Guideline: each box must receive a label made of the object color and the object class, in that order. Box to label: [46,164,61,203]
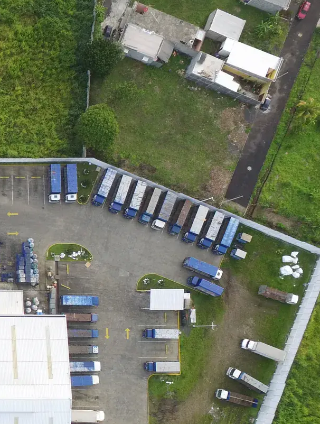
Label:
blue vehicle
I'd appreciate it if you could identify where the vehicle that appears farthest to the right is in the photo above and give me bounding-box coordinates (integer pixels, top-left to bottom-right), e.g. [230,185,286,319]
[295,0,311,21]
